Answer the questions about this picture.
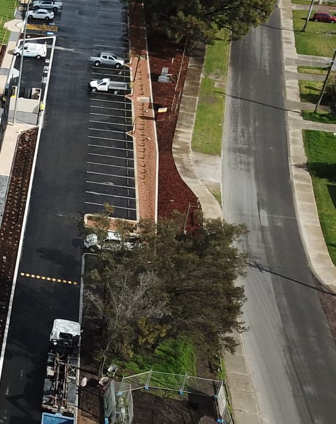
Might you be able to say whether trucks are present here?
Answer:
Yes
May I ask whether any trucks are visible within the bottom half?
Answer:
Yes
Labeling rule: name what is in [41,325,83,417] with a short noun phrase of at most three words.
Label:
truck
